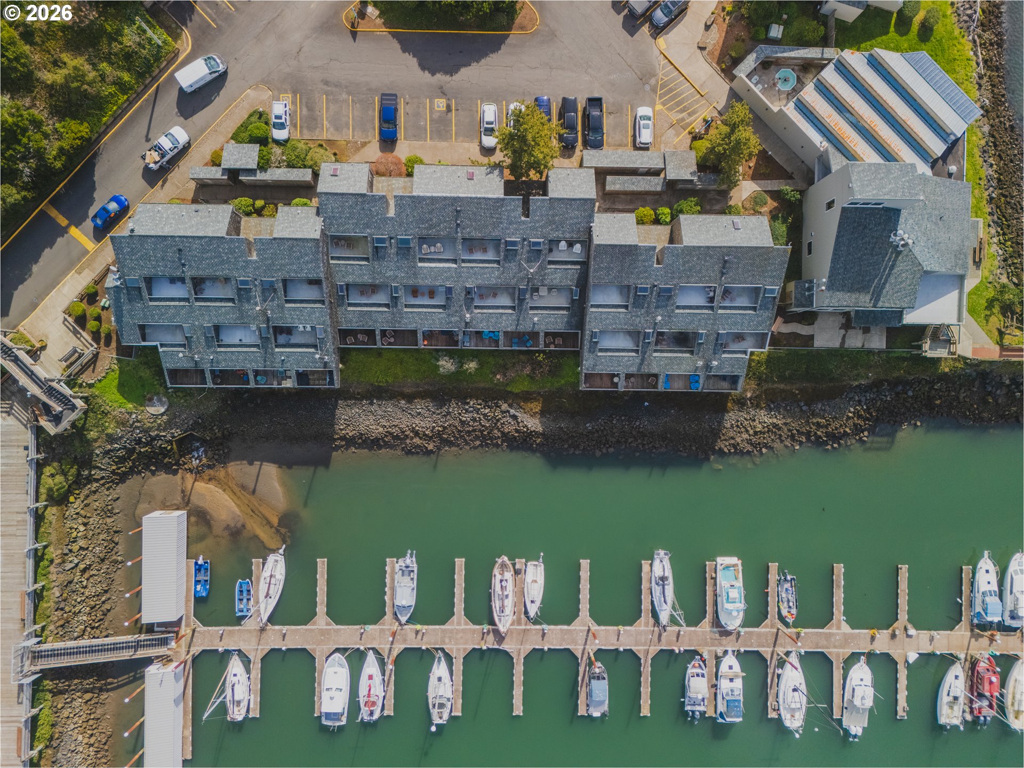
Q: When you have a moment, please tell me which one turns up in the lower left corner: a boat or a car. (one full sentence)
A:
There is a boat in the lower left corner.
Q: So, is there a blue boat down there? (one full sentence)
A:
Yes, a blue boat can be made out from above.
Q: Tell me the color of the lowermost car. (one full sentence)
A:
The lowermost car is blue.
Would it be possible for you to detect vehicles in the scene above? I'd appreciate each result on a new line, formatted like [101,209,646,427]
[269,101,292,144]
[377,92,400,144]
[534,94,552,119]
[634,106,656,150]
[89,192,132,231]
[653,0,696,28]
[584,95,607,151]
[478,104,499,151]
[140,126,193,171]
[169,55,228,95]
[560,95,581,150]
[622,0,656,20]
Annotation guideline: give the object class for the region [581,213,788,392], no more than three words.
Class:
building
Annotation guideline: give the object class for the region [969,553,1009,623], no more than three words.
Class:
boat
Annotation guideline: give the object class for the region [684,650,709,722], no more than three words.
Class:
boat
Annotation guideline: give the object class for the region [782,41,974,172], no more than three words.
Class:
building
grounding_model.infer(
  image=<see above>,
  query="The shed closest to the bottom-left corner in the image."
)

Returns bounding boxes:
[144,661,188,768]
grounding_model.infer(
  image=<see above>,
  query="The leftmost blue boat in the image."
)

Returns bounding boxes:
[194,550,211,598]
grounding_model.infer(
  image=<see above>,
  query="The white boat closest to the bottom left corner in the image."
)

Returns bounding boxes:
[204,650,251,725]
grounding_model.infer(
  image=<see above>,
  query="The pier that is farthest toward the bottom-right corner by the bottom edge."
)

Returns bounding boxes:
[175,557,1024,759]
